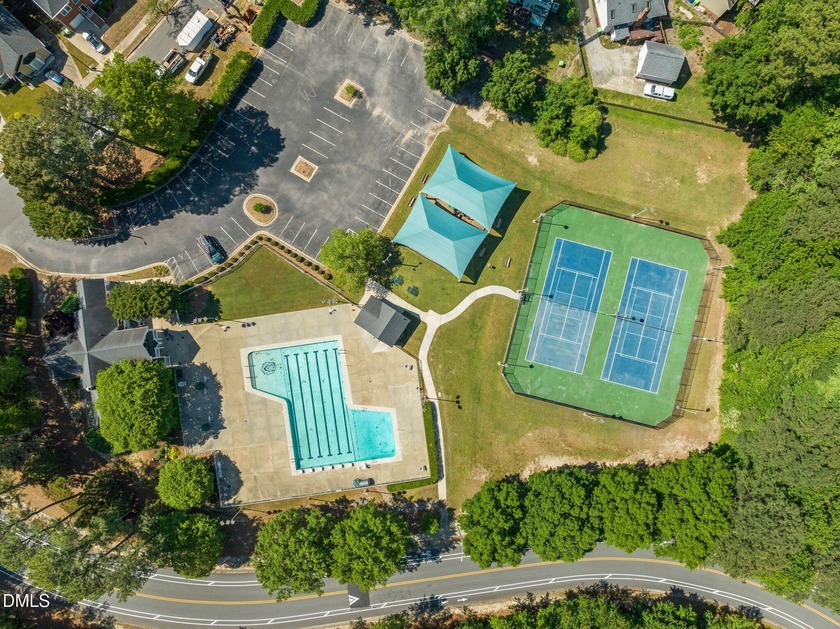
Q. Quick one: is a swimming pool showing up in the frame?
Yes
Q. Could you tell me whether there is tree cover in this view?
Yes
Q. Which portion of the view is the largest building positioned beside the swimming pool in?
left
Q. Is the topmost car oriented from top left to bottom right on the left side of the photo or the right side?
left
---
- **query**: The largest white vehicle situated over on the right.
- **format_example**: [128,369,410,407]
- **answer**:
[645,82,678,98]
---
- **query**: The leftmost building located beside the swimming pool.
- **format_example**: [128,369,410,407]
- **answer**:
[44,279,180,388]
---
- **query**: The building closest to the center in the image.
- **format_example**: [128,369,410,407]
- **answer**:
[354,295,411,346]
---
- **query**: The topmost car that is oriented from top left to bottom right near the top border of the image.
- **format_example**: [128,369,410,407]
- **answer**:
[80,30,107,56]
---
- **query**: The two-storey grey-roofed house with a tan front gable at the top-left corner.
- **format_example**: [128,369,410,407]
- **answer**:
[0,2,68,103]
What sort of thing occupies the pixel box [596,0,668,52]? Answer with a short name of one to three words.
house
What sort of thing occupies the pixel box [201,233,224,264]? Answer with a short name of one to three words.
car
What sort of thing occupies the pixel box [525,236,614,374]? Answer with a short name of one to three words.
tennis court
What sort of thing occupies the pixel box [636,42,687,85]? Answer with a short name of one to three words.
building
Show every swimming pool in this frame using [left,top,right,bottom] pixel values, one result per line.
[240,335,402,476]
